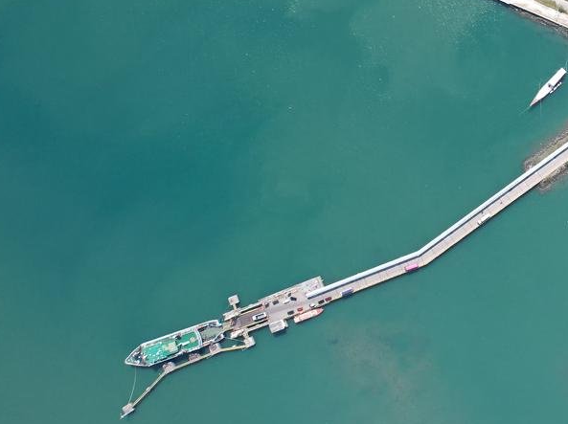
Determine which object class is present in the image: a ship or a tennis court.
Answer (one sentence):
I can see a ship in this picture.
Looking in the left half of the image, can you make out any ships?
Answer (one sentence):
Yes, a ship appears in the left half of the image.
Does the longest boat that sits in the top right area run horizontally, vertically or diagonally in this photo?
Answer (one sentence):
Seen from above, the longest boat that sits in the top right area lies diagonally.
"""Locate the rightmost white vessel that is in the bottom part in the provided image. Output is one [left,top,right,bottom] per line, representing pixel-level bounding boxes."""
[294,308,324,323]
